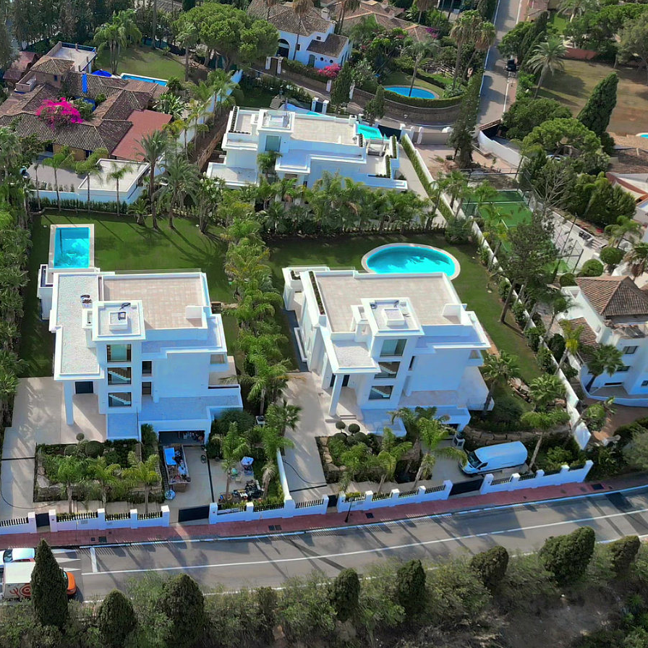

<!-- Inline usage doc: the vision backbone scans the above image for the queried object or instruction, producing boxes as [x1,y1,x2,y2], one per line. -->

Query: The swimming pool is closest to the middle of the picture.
[360,240,461,273]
